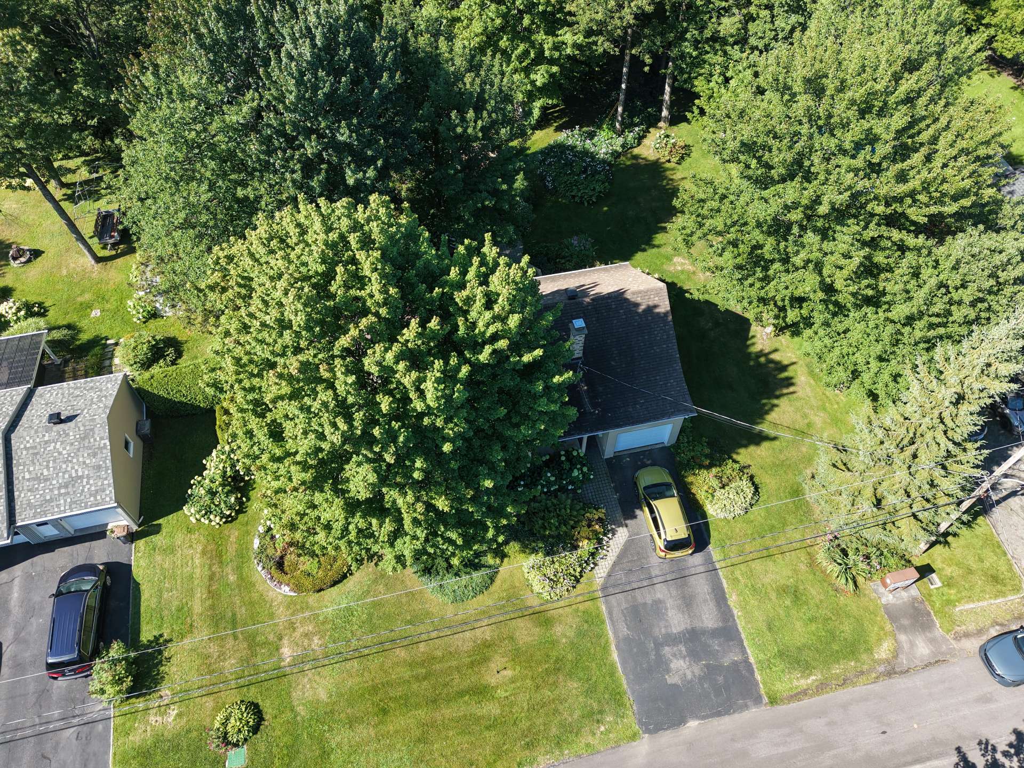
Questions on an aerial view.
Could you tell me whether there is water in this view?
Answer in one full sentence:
No, no water is visible.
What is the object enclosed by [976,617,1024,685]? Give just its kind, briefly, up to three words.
car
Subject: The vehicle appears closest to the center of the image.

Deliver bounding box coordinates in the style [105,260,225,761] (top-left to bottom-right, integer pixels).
[633,467,696,561]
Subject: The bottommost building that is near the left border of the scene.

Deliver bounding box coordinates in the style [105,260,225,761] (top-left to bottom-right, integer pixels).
[0,368,150,563]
